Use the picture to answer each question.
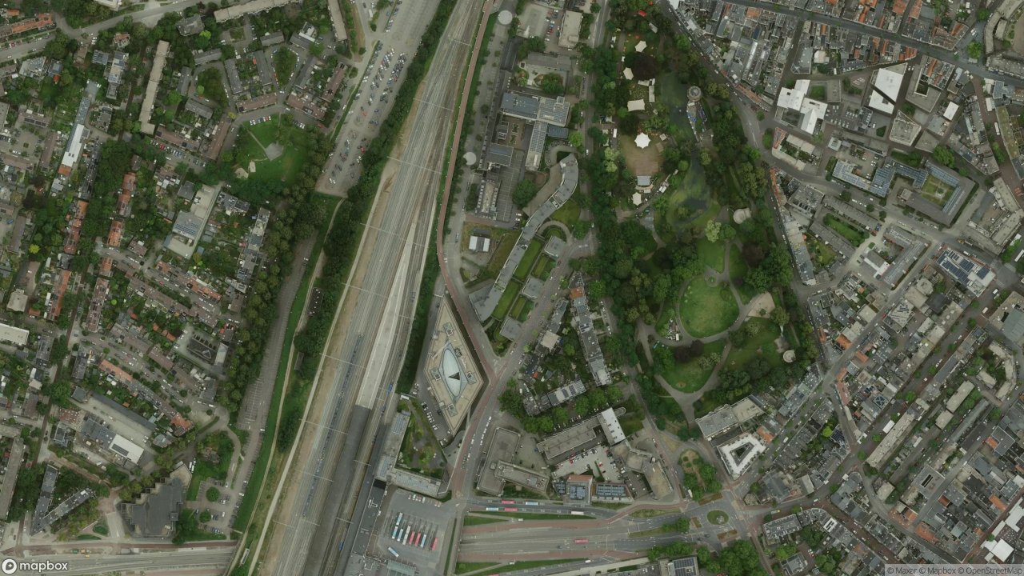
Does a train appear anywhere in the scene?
Yes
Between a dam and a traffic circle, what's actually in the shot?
traffic circle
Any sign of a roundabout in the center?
No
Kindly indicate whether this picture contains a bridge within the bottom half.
No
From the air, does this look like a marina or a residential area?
residential area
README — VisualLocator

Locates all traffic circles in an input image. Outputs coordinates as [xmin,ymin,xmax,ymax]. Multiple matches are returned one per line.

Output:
[690,490,750,550]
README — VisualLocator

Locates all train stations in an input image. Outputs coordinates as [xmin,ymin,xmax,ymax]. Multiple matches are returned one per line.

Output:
[344,414,442,576]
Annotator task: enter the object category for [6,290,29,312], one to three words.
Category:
house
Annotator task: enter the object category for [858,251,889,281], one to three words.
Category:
building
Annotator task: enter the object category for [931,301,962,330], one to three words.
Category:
building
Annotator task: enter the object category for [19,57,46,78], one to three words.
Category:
house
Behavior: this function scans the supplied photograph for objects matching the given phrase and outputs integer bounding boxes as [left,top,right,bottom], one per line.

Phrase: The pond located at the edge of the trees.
[664,75,709,221]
